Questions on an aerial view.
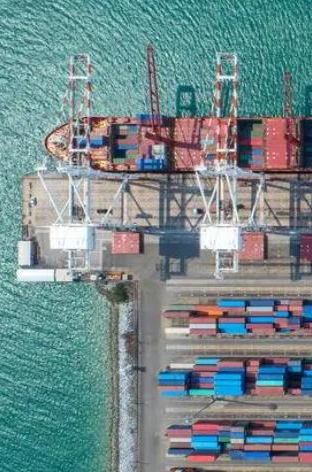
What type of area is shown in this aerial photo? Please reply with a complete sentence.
This image shows a port.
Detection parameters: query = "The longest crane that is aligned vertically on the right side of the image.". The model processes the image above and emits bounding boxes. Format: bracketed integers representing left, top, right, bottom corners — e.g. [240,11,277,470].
[199,52,277,282]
